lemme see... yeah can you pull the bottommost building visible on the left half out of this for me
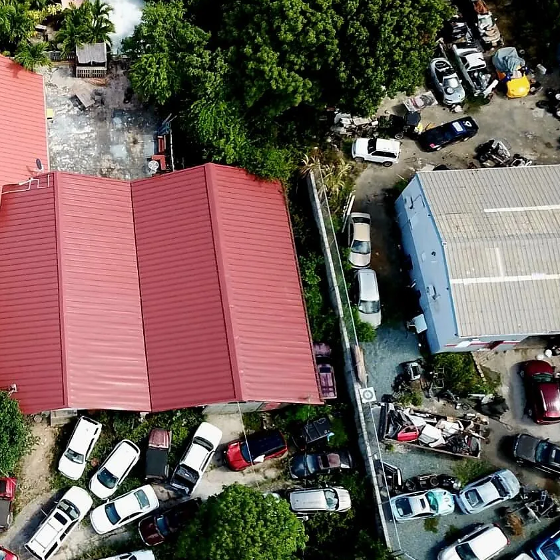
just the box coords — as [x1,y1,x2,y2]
[0,162,324,413]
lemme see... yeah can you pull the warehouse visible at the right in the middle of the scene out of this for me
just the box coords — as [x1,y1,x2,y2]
[394,163,560,356]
